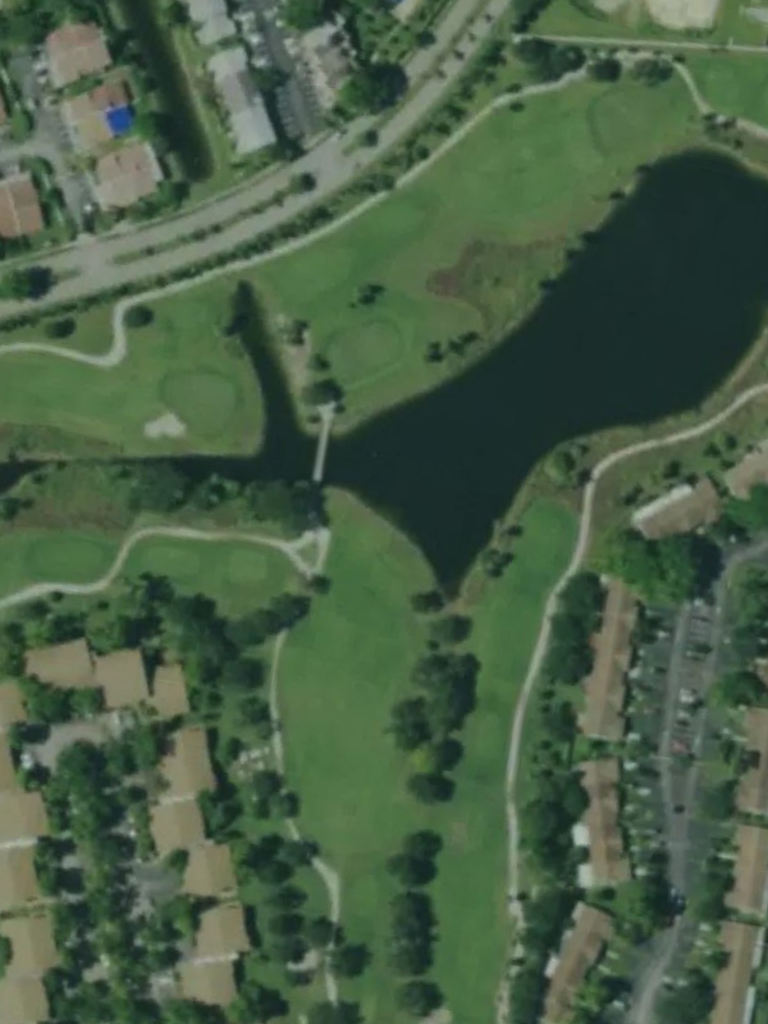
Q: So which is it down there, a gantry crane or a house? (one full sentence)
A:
Looking from above, you can make out a house.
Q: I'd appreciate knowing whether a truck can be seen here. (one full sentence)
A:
No, there is no truck in the image.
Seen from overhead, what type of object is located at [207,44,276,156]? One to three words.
building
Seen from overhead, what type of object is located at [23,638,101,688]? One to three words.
house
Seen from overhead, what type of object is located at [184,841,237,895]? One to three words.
house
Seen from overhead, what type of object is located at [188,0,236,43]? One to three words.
building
